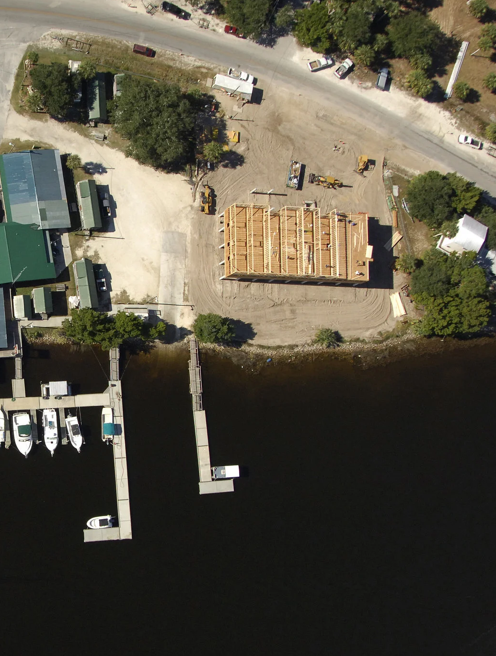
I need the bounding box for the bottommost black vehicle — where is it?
[96,267,109,294]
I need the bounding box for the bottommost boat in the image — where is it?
[87,516,116,529]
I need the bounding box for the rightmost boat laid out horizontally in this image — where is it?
[209,465,242,478]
